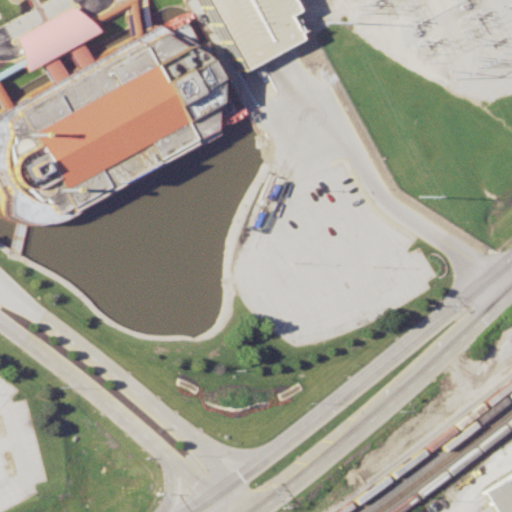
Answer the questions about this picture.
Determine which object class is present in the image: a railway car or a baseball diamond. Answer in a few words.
railway car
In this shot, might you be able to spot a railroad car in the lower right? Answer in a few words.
Yes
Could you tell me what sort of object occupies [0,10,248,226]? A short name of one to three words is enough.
building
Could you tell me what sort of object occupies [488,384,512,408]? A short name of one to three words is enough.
rail car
